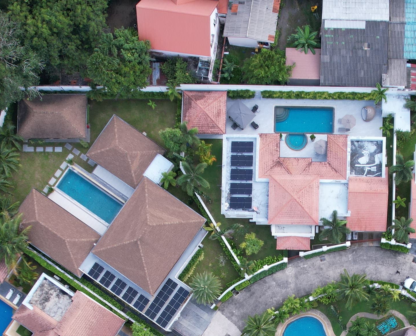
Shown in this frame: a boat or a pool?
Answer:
pool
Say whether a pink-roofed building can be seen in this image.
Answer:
Yes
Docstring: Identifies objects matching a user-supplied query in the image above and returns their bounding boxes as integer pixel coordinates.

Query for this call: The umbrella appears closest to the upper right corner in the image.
[342,114,357,129]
